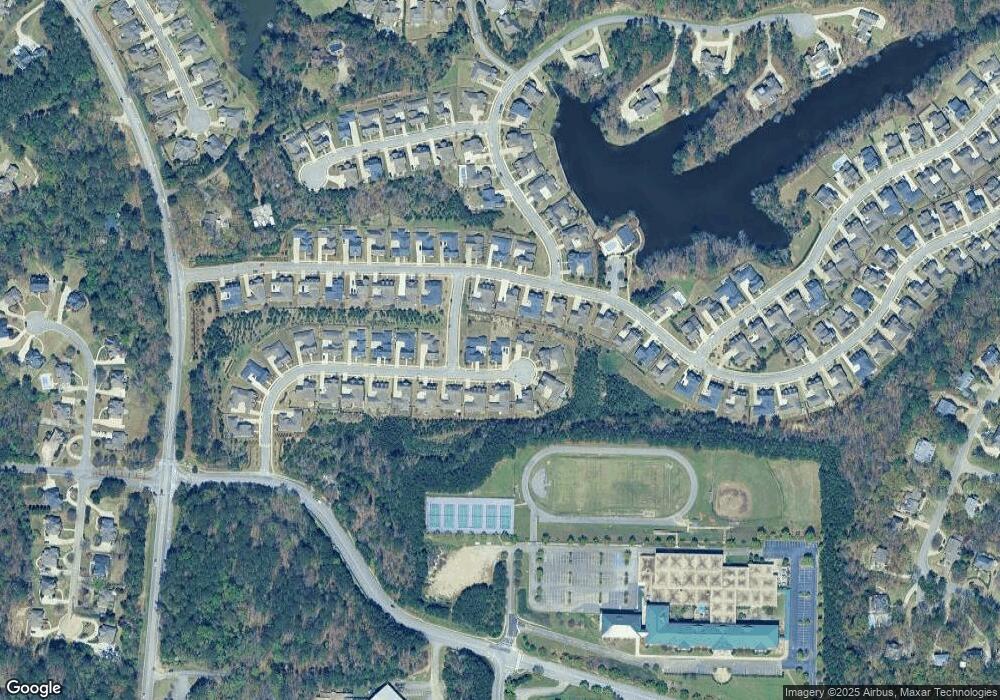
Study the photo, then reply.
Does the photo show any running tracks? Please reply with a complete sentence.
Yes, you can see a running track in this photo.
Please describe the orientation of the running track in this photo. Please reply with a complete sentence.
The running track has been laid out from left to right relative to the frame.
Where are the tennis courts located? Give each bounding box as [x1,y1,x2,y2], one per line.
[443,504,455,528]
[430,504,440,528]
[457,504,470,528]
[499,504,511,528]
[472,504,483,528]
[485,504,497,528]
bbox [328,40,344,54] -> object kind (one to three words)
swimming pool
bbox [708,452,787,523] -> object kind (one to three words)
baseball field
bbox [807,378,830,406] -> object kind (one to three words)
house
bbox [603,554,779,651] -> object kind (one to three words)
building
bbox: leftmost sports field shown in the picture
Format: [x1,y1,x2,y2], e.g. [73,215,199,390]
[530,453,689,517]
